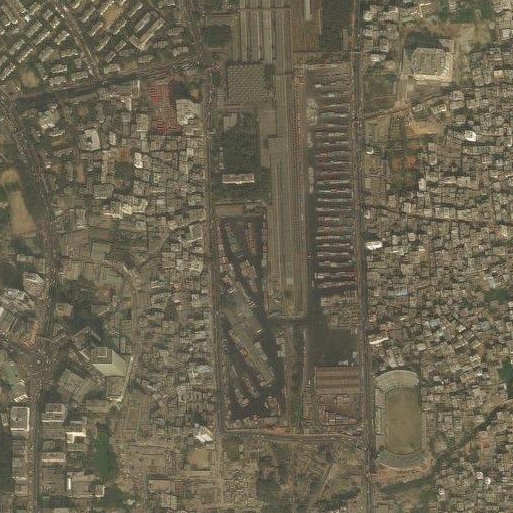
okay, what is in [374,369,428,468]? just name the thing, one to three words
stadium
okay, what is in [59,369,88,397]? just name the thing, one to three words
building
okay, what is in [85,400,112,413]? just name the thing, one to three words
building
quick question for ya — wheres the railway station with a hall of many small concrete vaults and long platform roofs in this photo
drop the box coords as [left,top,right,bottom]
[217,0,293,307]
